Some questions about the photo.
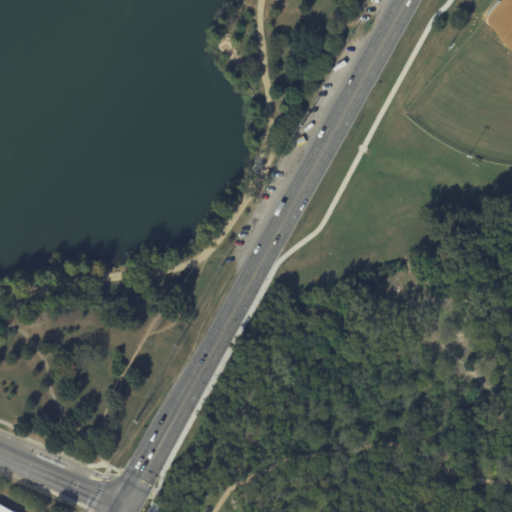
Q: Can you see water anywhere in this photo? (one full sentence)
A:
Yes, water shows up in the scene.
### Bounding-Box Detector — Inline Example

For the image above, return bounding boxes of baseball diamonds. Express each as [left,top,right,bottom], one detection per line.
[406,0,512,164]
